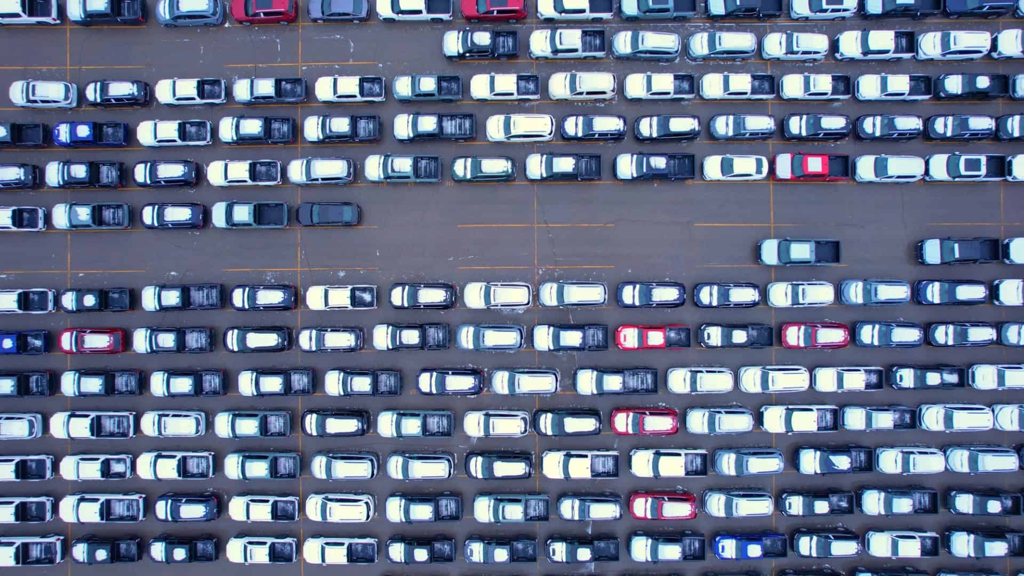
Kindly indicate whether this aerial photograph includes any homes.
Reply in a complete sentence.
No, there's no home here.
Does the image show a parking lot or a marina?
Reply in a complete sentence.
What you see here is a parking lot.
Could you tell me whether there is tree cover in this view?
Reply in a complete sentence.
No, no tree cover is visible.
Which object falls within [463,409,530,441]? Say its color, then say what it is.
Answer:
white car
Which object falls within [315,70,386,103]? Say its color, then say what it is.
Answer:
white truck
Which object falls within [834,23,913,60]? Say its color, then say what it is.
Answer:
white truck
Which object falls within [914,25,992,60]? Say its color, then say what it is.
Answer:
white car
